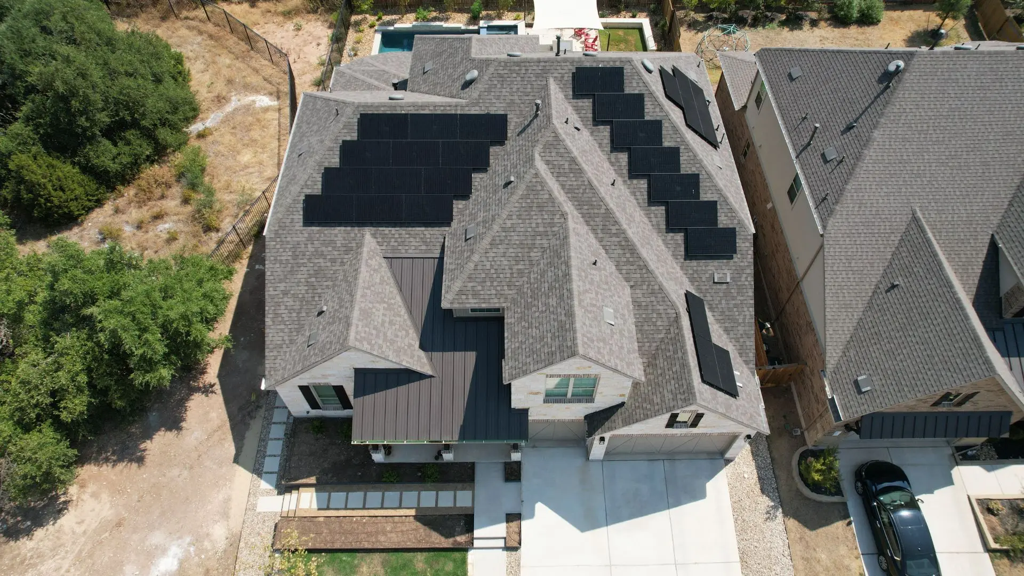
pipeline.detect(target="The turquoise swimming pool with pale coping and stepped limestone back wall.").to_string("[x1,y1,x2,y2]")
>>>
[370,19,480,55]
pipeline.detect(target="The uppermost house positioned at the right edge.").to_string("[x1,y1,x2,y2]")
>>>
[715,28,1024,448]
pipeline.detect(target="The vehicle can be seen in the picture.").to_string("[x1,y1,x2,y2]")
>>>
[856,462,949,576]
